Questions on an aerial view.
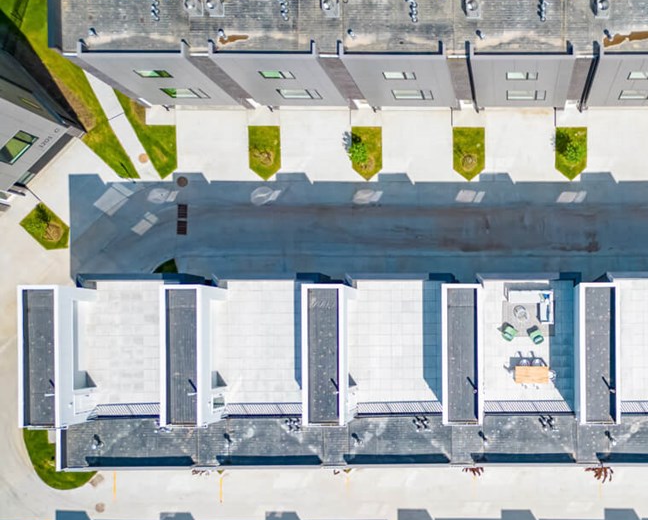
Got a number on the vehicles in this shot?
0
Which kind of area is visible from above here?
residential area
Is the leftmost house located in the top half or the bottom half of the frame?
top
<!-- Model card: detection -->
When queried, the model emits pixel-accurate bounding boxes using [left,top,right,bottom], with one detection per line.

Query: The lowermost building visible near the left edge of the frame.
[18,273,218,473]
